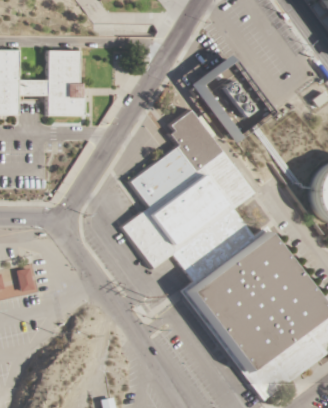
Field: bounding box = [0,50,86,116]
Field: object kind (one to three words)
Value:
building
